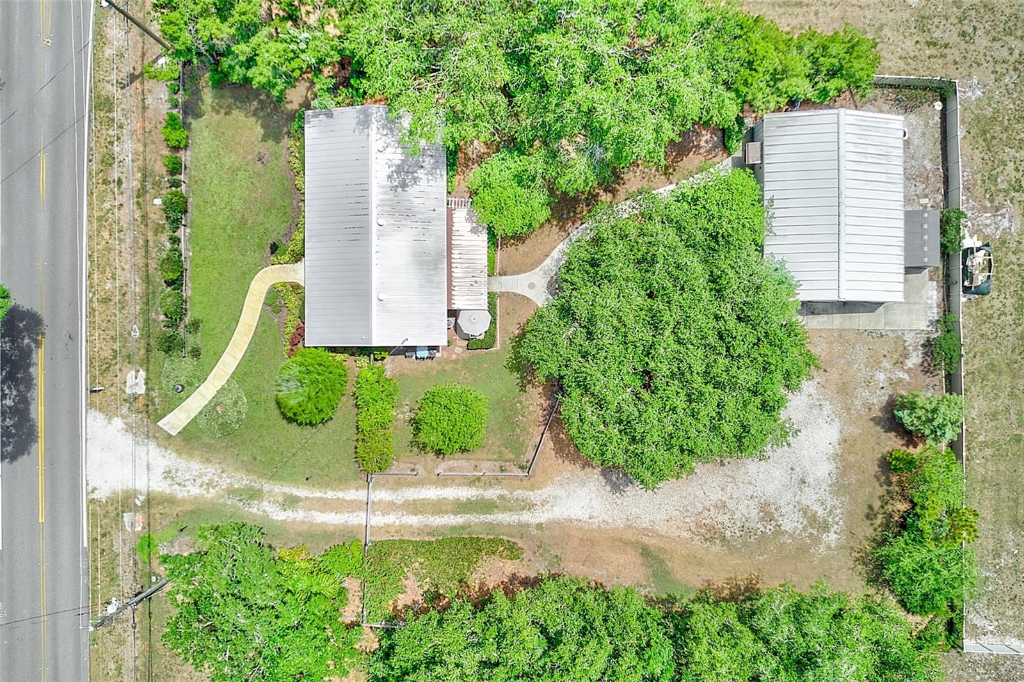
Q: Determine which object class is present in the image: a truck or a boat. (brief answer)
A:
boat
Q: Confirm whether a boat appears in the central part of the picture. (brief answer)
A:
No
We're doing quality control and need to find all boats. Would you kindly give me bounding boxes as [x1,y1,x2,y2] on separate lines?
[964,240,994,295]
